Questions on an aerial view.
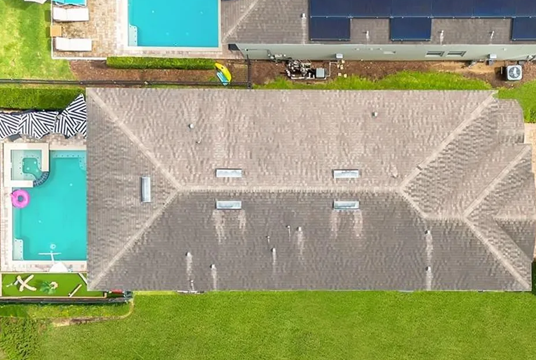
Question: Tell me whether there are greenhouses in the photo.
No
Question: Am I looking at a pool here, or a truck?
pool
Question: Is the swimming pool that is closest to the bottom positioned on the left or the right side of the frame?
left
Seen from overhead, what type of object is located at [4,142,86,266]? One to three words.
swimming pool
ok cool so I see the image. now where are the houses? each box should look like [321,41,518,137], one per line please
[220,0,536,60]
[85,87,536,292]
